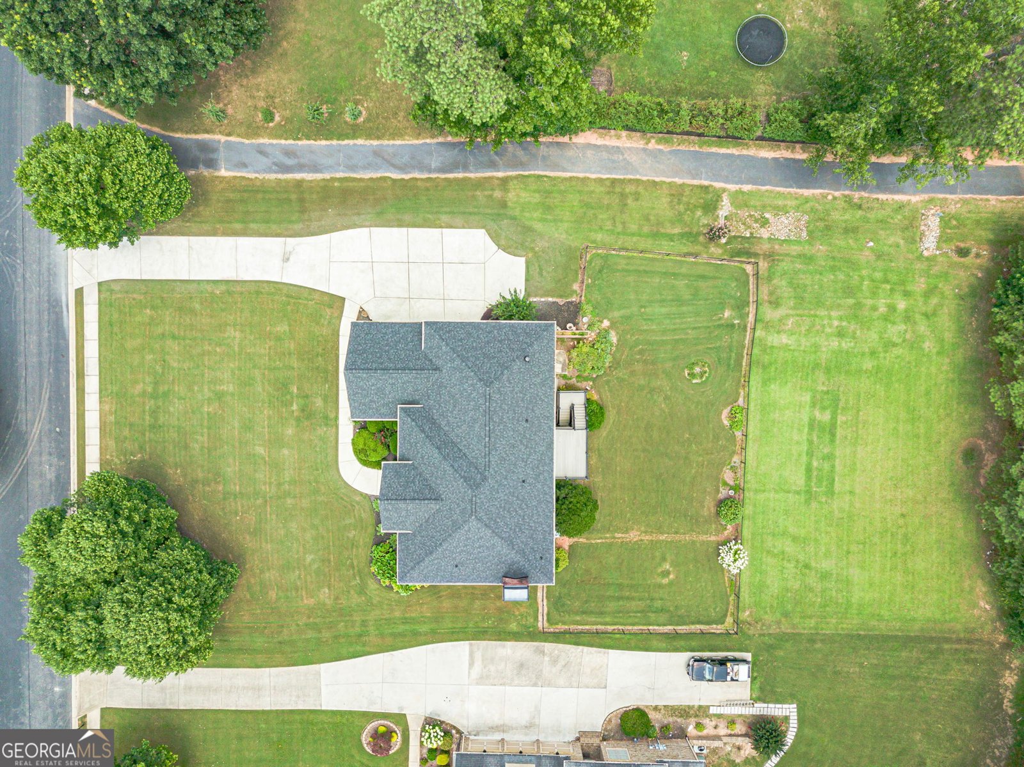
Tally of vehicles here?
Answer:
1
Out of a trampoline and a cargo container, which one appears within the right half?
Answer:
trampoline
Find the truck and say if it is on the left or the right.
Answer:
right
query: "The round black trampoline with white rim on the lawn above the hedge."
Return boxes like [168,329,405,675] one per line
[736,15,787,70]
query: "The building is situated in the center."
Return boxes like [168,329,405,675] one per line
[343,320,556,601]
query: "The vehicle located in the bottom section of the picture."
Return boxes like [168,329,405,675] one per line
[685,655,748,687]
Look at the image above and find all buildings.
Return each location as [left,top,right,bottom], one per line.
[451,734,706,767]
[343,320,556,601]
